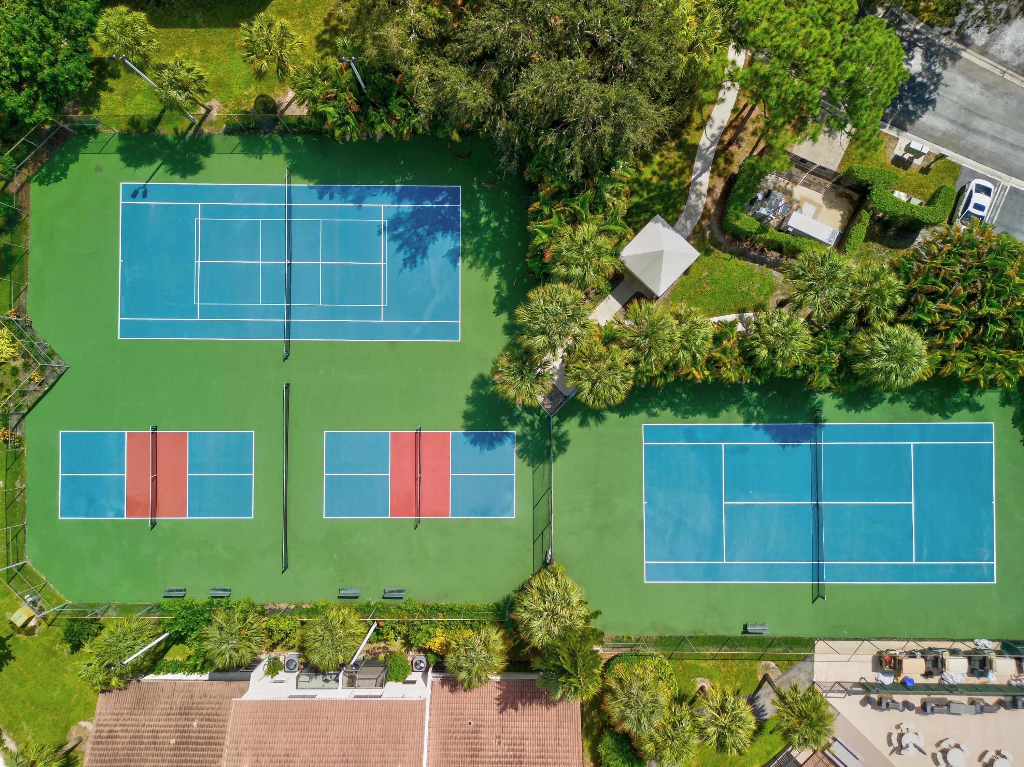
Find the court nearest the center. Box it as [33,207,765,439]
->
[324,431,516,518]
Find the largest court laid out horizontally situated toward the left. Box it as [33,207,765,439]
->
[118,183,461,341]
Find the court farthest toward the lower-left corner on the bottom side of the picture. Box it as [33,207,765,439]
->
[59,431,254,519]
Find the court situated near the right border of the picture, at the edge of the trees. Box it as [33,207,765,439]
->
[643,422,996,583]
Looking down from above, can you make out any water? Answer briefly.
No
